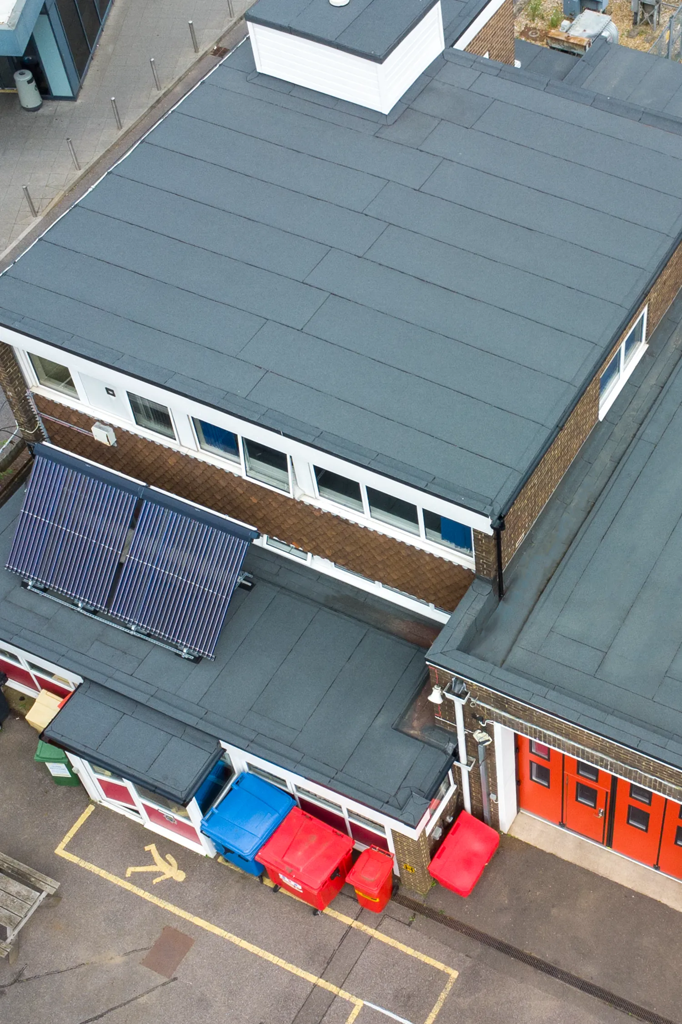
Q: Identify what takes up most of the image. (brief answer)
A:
buildings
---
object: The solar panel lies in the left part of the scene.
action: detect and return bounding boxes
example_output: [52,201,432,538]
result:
[7,435,266,671]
